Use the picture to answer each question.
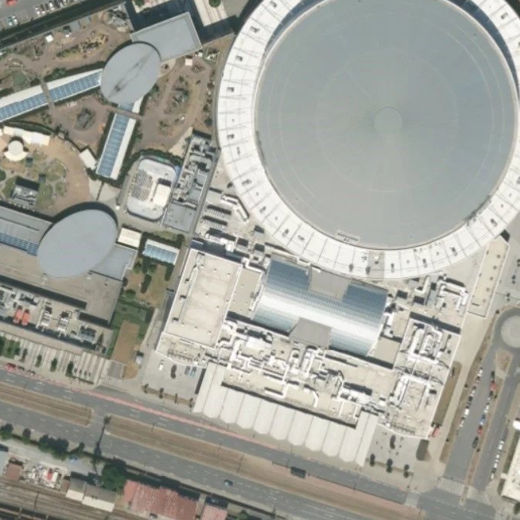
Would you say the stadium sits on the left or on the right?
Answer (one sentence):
The stadium appears in the right half of the scene.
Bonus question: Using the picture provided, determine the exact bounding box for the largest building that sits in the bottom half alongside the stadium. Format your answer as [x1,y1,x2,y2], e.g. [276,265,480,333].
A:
[155,179,510,467]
